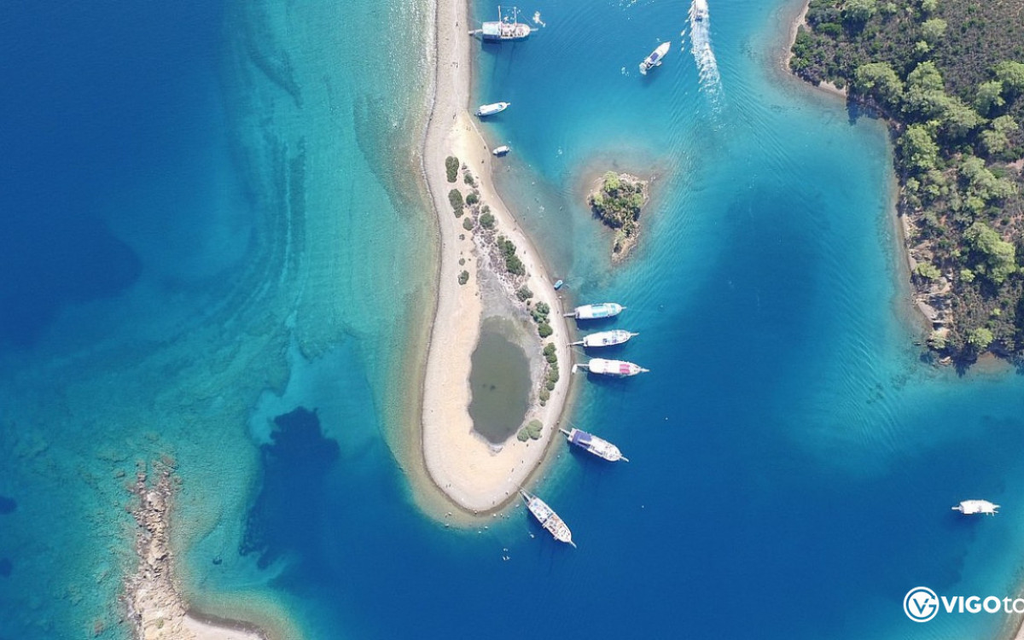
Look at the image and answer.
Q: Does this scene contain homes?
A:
No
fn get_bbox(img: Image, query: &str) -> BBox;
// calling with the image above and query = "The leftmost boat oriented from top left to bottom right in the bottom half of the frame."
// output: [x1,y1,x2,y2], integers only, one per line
[518,487,577,548]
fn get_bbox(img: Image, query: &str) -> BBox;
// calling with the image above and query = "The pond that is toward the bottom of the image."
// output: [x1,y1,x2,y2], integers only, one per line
[471,330,529,440]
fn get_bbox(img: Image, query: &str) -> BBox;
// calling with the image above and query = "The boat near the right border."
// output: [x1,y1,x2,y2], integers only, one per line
[952,501,1000,516]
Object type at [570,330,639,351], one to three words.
boat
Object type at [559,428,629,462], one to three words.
boat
